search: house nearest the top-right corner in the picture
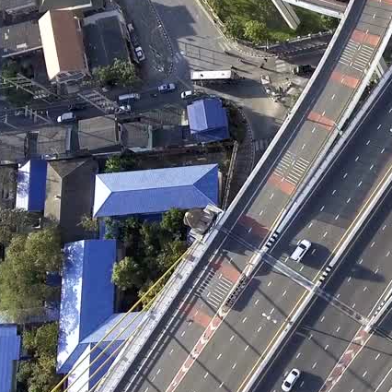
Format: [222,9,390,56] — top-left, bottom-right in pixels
[187,97,239,143]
